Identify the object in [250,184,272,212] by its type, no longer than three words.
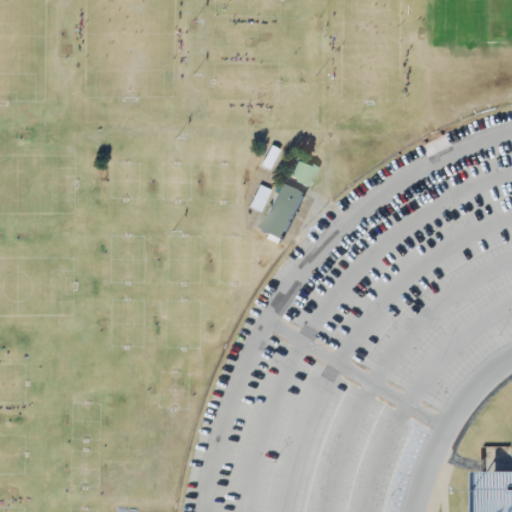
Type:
shed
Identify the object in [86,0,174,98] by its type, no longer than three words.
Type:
soccer field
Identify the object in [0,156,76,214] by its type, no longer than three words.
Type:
soccer field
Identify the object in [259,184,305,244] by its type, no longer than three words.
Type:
building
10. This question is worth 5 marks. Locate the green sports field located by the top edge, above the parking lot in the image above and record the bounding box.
[430,0,512,50]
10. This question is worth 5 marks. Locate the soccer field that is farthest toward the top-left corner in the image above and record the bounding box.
[0,0,46,102]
